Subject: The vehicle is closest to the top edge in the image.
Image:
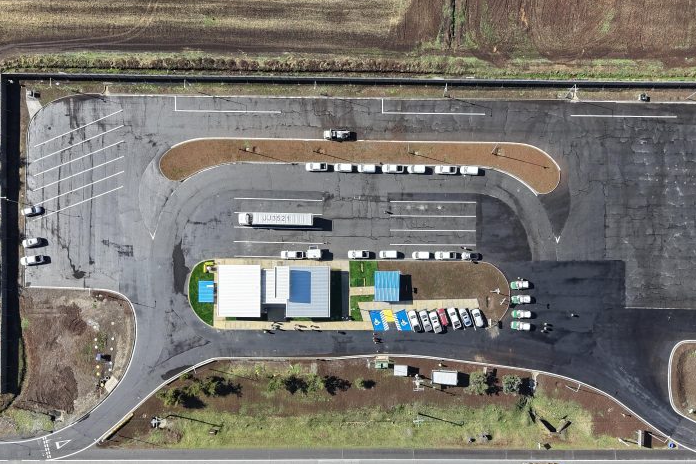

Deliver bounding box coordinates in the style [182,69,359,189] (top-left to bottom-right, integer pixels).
[324,128,350,141]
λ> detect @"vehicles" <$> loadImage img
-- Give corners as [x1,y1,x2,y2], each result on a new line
[411,251,431,260]
[438,307,449,327]
[435,251,457,261]
[21,256,44,265]
[324,128,350,141]
[334,163,354,172]
[409,311,420,331]
[347,250,370,260]
[23,239,42,247]
[240,213,313,226]
[460,308,471,327]
[282,250,304,260]
[510,321,531,330]
[509,281,530,289]
[305,163,328,172]
[459,166,479,175]
[511,310,532,318]
[435,165,457,175]
[472,308,484,328]
[357,163,377,173]
[510,295,531,304]
[430,312,441,332]
[420,311,432,331]
[449,307,461,329]
[407,164,426,174]
[379,250,398,260]
[462,252,481,261]
[382,164,404,173]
